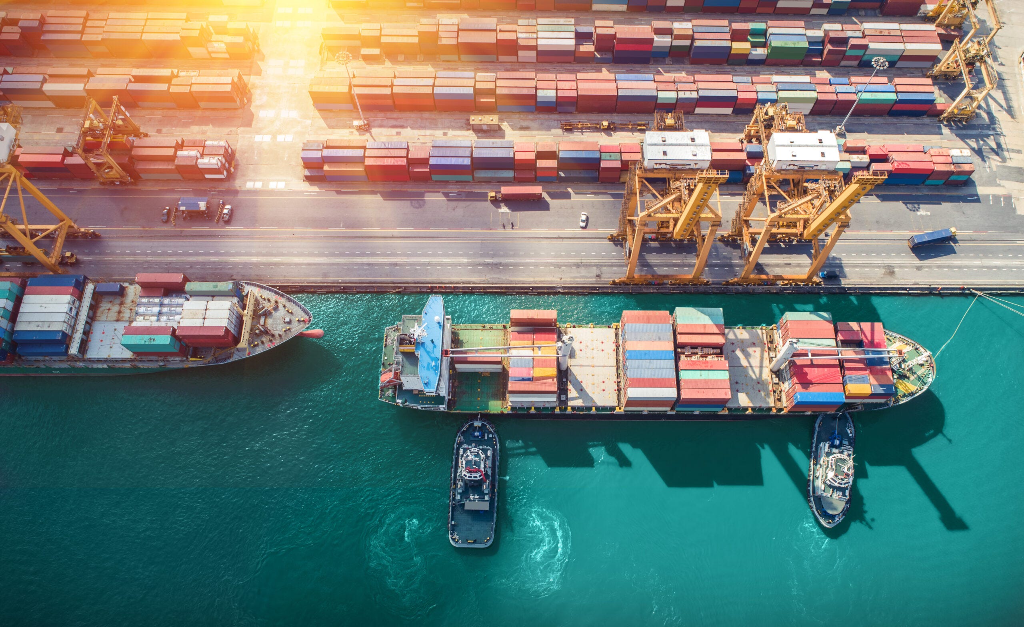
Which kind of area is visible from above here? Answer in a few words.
port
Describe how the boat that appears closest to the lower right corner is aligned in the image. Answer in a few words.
up and down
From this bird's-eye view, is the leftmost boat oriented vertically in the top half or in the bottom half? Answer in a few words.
bottom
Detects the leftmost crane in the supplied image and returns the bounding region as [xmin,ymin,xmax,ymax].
[0,93,103,278]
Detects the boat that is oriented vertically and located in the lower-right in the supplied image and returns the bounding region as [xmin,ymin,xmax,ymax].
[807,415,861,531]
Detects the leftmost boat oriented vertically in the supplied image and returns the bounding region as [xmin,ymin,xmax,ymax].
[453,420,499,548]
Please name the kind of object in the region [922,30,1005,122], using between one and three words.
container crane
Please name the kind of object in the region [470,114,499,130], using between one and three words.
shed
